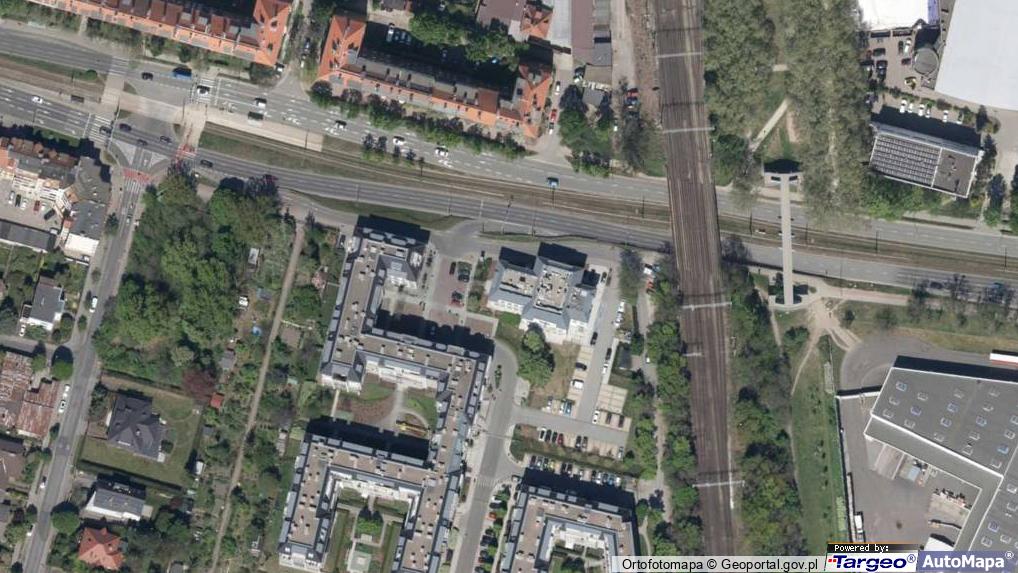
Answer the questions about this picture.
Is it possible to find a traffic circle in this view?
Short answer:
No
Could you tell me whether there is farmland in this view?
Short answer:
No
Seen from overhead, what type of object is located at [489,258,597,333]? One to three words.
building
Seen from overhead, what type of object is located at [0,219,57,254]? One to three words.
shed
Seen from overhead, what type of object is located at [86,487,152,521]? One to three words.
house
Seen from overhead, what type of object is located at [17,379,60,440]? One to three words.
shed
